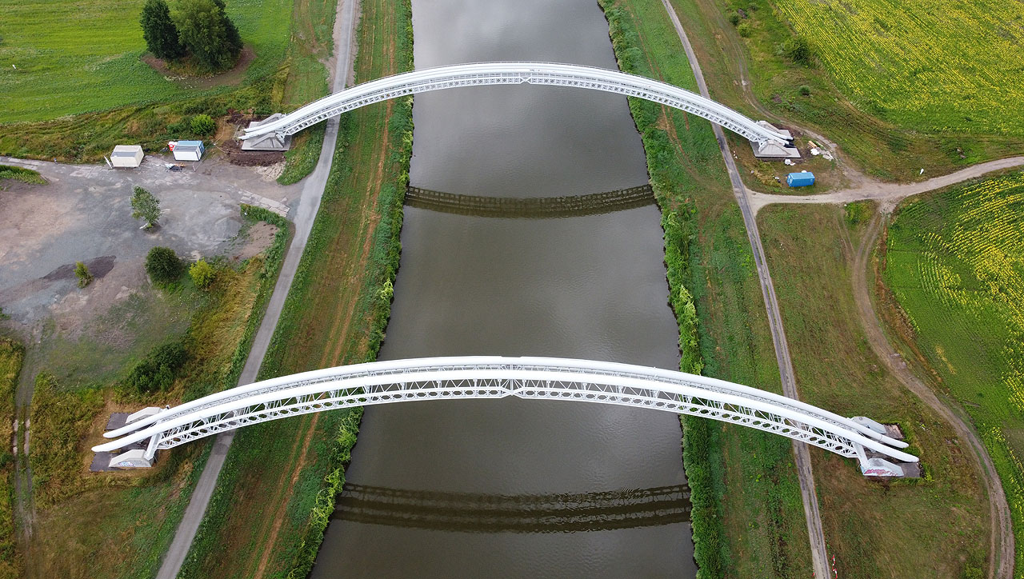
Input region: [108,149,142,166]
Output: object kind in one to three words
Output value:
building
